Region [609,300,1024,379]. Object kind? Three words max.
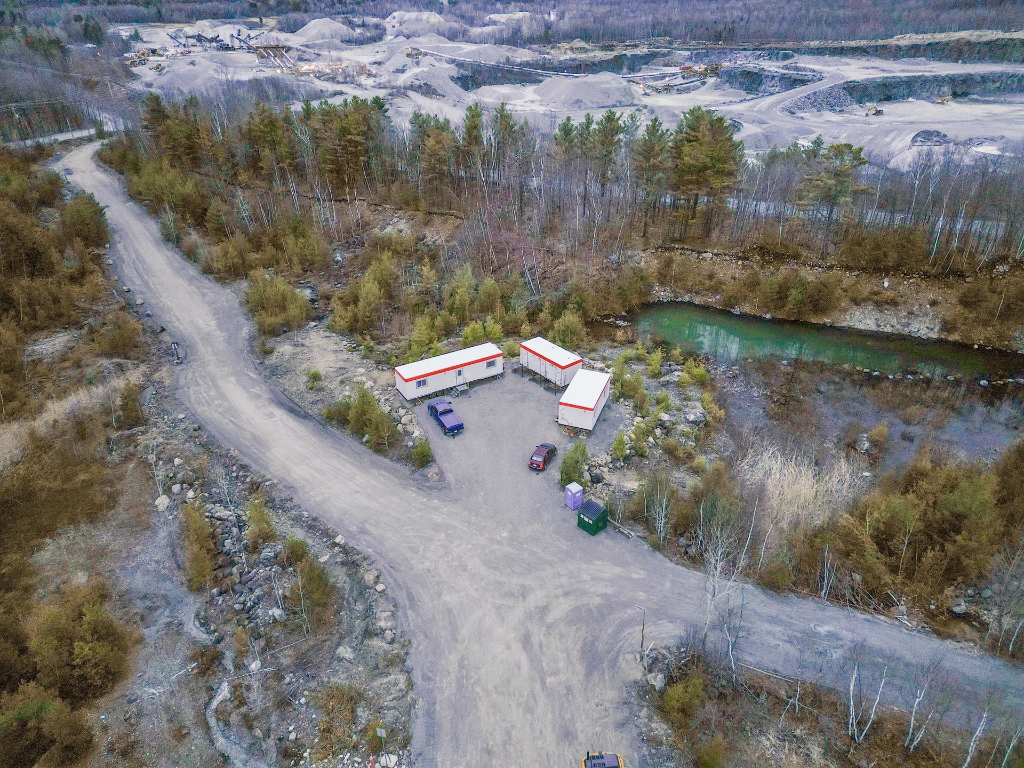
pond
